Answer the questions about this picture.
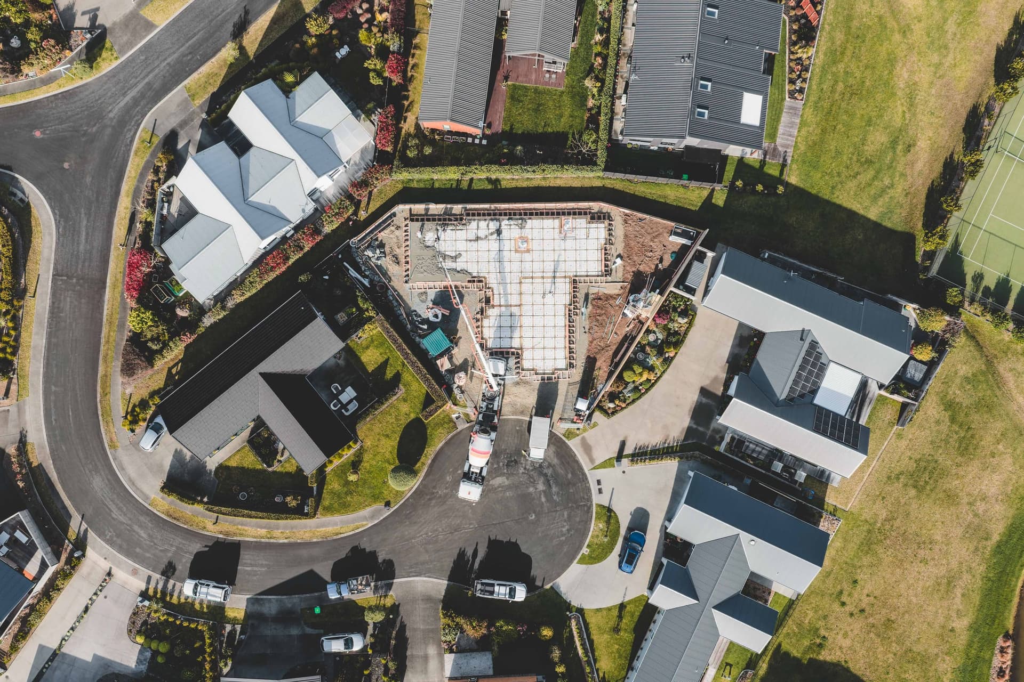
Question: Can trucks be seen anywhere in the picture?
Yes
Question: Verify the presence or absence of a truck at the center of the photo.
Yes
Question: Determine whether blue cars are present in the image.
Yes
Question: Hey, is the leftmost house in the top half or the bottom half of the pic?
bottom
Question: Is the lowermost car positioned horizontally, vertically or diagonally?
horizontally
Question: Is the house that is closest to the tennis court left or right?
right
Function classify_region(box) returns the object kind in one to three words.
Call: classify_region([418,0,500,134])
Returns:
house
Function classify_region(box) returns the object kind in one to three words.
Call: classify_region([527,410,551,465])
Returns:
truck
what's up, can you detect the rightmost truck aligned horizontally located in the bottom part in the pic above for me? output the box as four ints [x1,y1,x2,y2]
[473,578,526,603]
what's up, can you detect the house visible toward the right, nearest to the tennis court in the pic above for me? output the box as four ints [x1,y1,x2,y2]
[700,246,910,479]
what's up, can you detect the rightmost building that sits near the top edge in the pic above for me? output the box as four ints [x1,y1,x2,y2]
[623,0,784,153]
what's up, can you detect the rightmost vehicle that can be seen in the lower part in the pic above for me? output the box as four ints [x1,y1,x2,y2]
[620,529,646,576]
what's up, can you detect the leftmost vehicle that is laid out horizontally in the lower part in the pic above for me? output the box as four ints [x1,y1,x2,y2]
[184,578,233,604]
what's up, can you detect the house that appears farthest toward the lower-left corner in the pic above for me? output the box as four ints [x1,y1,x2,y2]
[0,509,63,639]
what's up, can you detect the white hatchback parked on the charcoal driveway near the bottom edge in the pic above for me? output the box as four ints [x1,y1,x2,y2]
[320,631,365,654]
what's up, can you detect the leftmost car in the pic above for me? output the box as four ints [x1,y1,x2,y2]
[137,411,167,454]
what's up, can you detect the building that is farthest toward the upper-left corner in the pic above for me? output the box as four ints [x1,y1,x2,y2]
[161,71,374,304]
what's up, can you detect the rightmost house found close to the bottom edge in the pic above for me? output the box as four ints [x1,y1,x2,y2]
[621,468,829,682]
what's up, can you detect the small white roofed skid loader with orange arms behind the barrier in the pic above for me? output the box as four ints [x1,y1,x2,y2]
[572,399,588,425]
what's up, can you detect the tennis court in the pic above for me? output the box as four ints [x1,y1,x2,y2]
[936,87,1024,316]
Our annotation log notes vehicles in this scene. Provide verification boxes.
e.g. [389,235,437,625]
[454,422,496,509]
[438,254,520,433]
[327,574,375,600]
[137,411,167,454]
[184,578,233,604]
[572,399,588,425]
[320,631,365,654]
[473,578,526,603]
[620,529,646,576]
[527,410,551,465]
